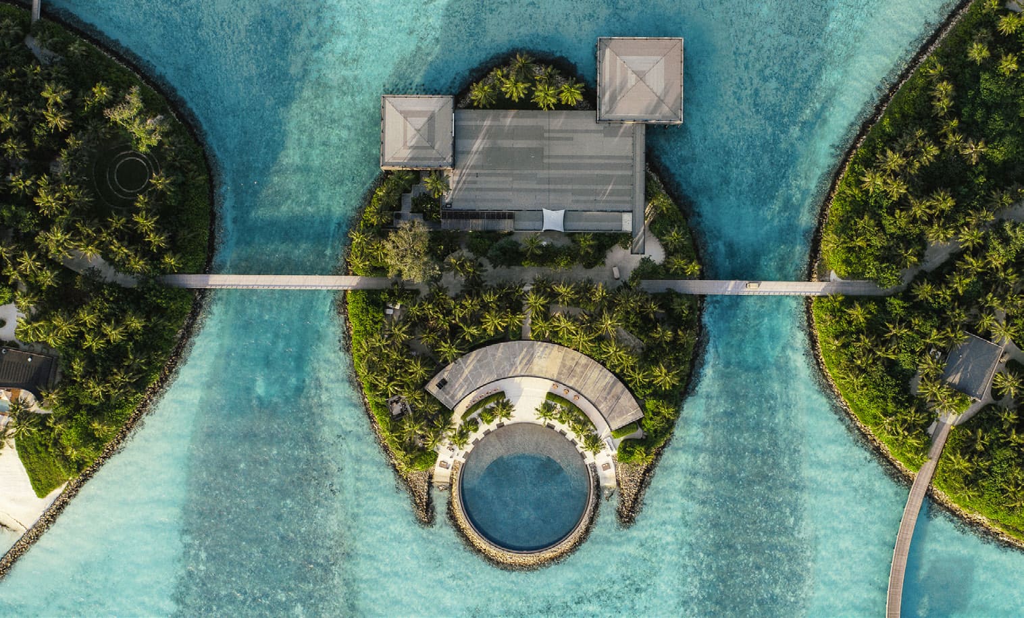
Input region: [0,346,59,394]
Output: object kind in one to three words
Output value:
house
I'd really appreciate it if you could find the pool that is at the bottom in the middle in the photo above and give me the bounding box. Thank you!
[457,420,592,558]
